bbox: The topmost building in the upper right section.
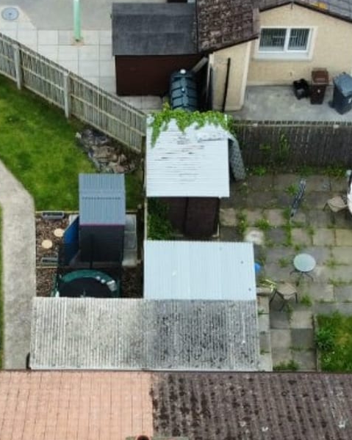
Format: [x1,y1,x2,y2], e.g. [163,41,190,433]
[200,0,352,109]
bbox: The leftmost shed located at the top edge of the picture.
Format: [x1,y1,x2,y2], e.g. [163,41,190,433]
[114,1,203,94]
